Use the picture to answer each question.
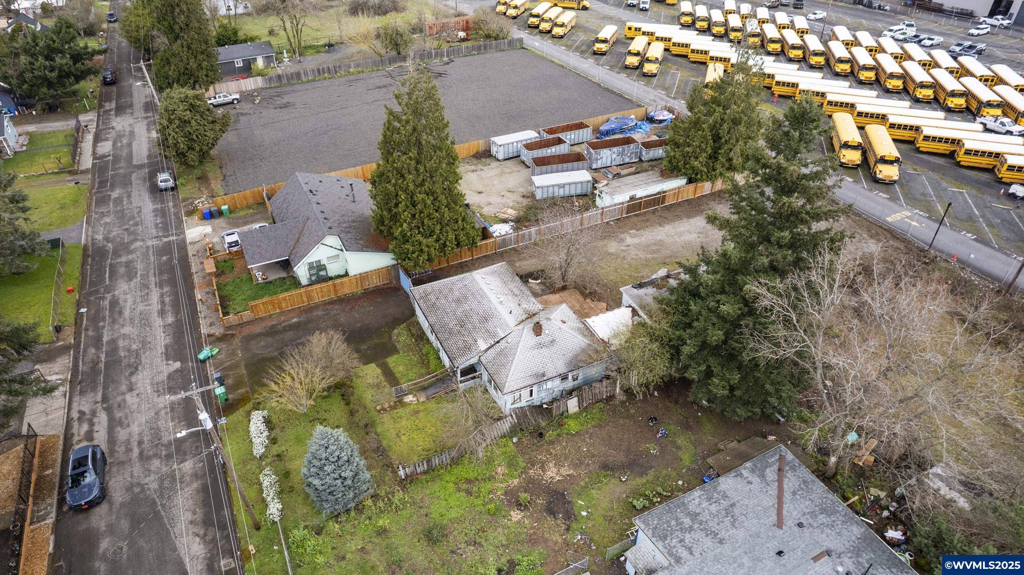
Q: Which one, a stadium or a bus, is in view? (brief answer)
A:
bus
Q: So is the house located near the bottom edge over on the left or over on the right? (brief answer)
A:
right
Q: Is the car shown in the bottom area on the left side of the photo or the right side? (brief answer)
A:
left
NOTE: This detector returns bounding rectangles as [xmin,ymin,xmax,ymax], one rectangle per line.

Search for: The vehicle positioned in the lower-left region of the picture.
[53,437,104,515]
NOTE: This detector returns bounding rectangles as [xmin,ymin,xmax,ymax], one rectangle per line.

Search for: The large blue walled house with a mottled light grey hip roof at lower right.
[619,445,922,575]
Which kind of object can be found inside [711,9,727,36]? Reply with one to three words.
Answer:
vehicle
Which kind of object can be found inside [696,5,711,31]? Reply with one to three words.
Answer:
vehicle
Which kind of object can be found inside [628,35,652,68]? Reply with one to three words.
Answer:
bus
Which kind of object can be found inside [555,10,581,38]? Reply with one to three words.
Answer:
bus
